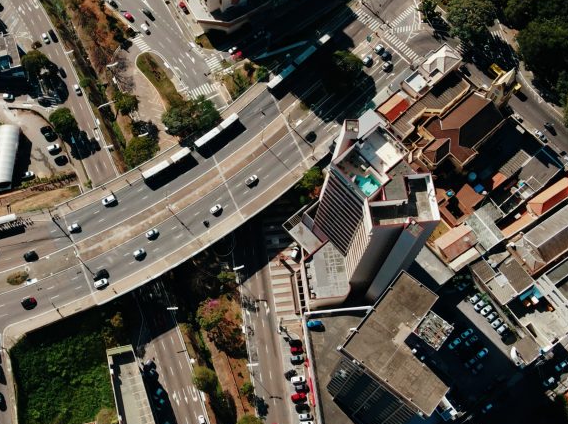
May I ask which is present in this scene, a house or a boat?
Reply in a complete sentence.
I can see a house in this picture.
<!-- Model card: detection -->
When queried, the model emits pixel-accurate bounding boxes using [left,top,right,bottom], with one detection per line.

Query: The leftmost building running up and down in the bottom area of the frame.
[107,345,154,424]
